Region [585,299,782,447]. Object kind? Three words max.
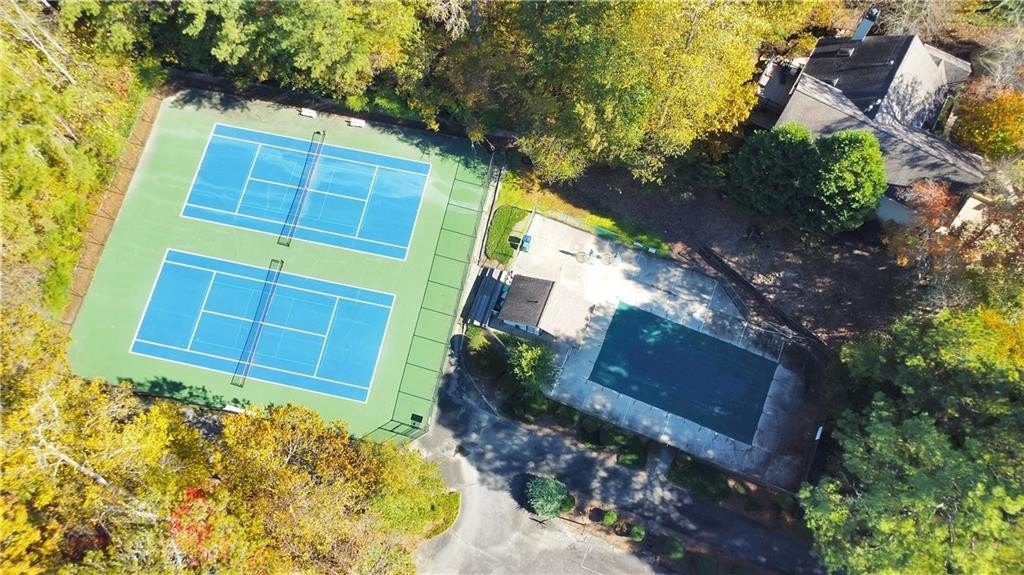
swimming pool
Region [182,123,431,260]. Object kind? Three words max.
tennis court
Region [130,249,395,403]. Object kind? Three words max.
tennis court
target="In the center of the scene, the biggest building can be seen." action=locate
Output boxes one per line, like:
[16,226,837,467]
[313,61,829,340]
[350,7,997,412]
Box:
[499,277,591,349]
